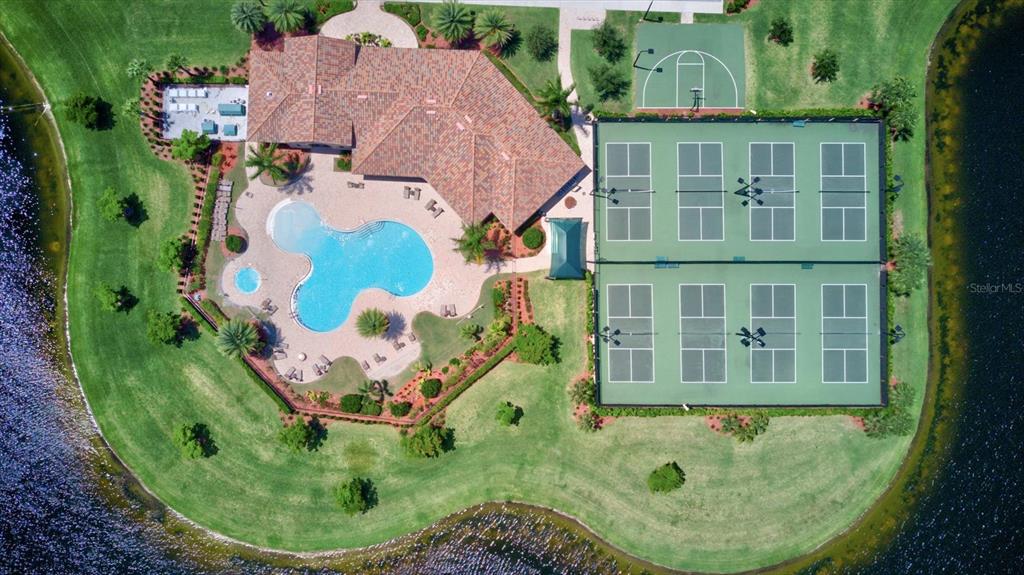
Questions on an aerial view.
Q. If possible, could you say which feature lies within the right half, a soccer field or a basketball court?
basketball court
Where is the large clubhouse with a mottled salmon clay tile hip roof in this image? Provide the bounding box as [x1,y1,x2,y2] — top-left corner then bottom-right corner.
[246,33,585,232]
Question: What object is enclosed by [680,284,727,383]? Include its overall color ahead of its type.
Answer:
gray sports court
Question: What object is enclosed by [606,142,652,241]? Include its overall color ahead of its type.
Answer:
gray sports court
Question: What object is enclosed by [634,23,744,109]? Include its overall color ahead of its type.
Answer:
green basketball court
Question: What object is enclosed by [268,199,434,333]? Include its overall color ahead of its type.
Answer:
blue swimming pool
